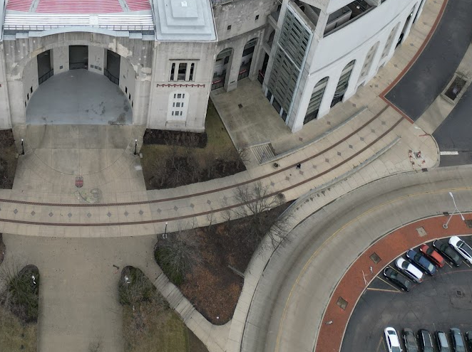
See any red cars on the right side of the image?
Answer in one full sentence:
Yes, a red car is visible on the right side of the image.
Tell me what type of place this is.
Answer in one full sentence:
It's a sports ground.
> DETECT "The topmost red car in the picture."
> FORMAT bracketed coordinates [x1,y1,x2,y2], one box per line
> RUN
[420,241,446,266]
